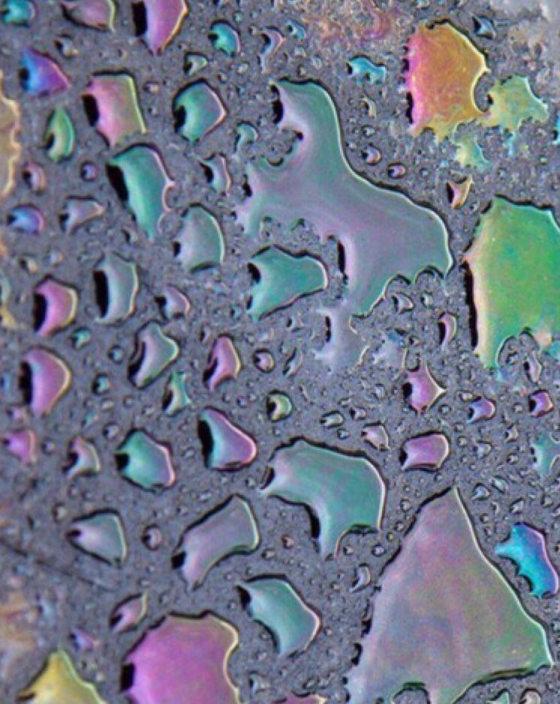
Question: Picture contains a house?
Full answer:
No, the photo shows no house.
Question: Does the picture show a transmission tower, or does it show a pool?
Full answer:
Of the two, only a pool appears.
